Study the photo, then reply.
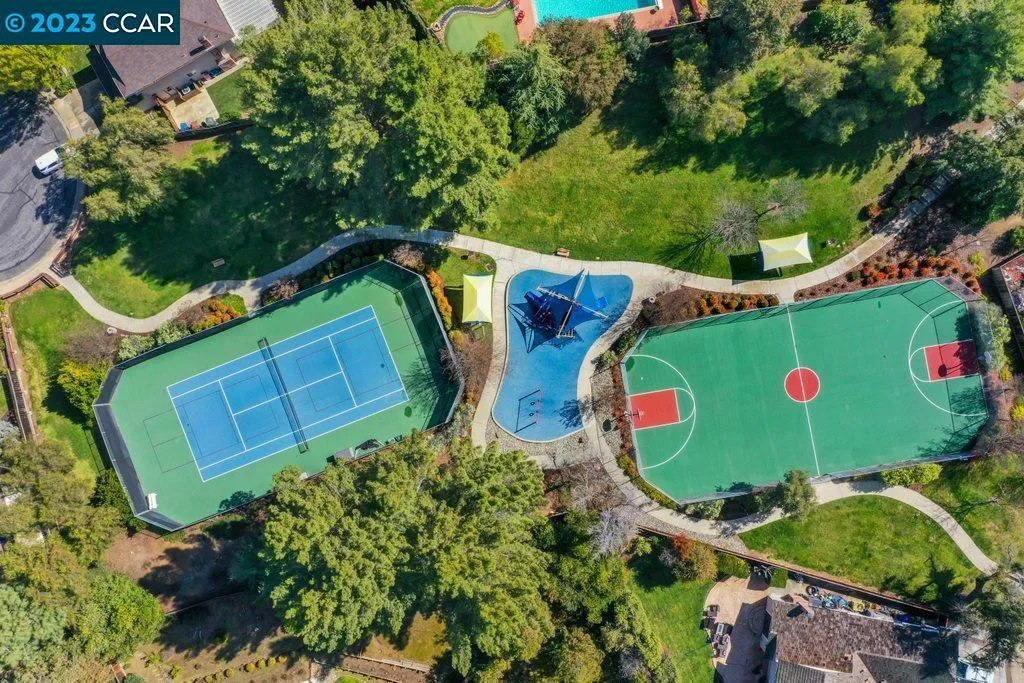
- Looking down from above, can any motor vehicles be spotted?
Yes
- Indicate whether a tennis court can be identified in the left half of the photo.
Yes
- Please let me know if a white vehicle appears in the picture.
Yes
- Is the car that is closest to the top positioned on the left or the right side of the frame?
left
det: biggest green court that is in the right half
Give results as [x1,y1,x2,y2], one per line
[620,277,990,504]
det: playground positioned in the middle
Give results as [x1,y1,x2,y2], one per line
[491,270,633,443]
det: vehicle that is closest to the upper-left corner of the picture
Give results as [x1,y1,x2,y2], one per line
[32,146,74,175]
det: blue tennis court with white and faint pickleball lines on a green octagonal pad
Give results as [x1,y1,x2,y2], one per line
[110,265,464,523]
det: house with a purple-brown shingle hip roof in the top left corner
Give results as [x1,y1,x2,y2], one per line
[70,0,239,102]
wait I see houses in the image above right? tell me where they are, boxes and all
[760,592,959,683]
[70,0,239,102]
